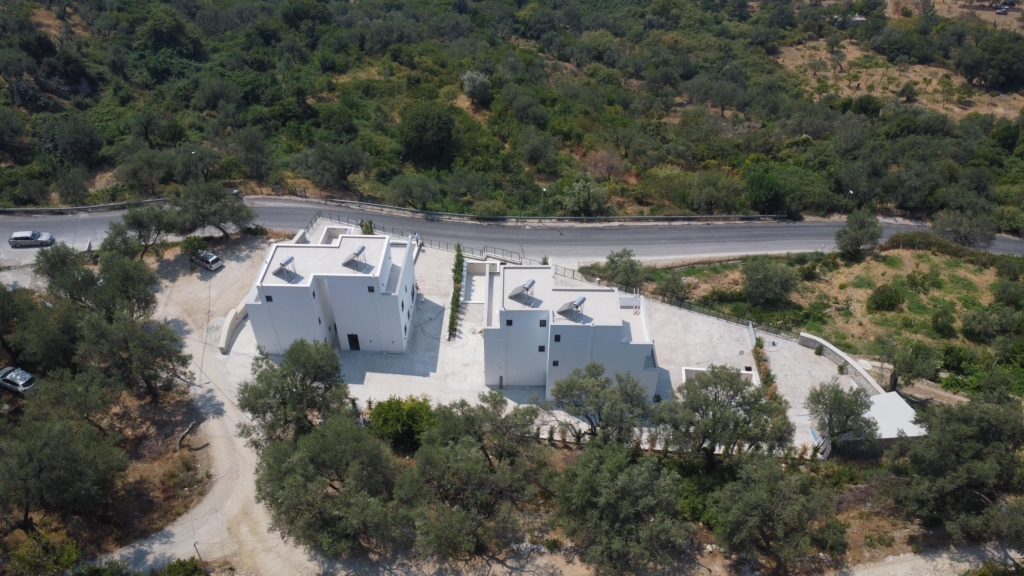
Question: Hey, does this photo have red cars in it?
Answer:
No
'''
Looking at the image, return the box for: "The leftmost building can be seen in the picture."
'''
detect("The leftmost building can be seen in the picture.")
[245,234,419,360]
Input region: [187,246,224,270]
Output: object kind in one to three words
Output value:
car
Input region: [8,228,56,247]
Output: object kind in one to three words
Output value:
car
